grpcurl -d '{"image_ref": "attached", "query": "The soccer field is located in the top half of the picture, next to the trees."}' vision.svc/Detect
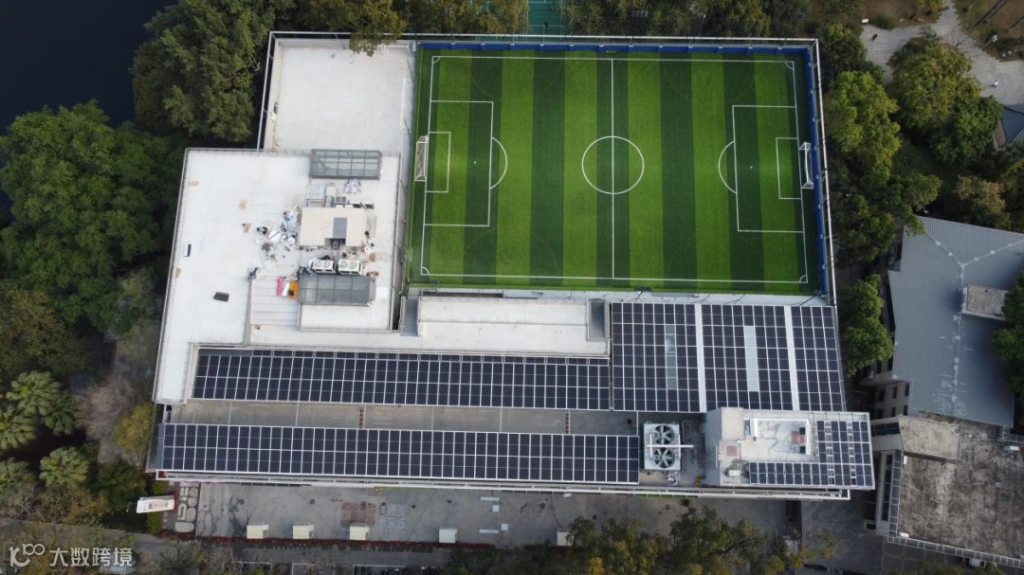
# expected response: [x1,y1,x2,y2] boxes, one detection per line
[403,50,818,294]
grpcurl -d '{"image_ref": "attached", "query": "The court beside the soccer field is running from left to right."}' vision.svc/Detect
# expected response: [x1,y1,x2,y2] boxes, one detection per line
[496,0,590,43]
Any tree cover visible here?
Yes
